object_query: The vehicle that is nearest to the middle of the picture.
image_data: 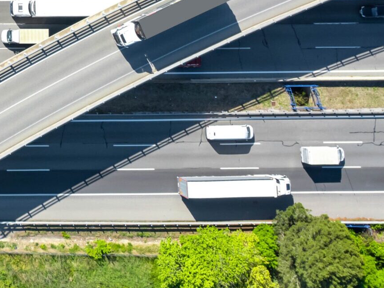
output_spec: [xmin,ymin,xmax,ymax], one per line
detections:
[204,124,250,142]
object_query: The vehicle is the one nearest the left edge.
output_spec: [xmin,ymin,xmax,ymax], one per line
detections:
[1,28,48,45]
